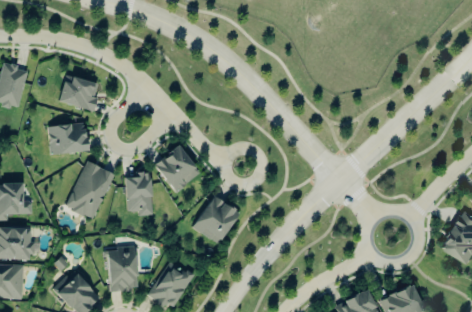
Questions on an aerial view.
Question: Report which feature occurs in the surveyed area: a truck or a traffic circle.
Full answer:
The one in the frame is a traffic circle.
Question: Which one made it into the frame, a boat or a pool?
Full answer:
Looking from above, you can make out a pool.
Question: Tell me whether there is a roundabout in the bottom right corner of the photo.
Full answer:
Yes, in the bottom right corner of the photo there is a roundabout.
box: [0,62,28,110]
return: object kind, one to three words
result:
house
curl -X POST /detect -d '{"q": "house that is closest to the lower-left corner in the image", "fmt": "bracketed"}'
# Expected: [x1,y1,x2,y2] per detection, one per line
[0,264,23,299]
